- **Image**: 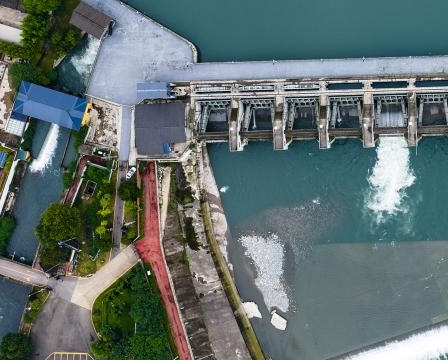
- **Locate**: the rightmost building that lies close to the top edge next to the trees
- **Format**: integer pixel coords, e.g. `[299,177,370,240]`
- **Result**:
[69,2,119,43]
